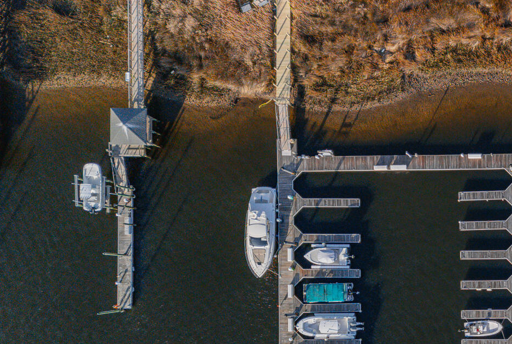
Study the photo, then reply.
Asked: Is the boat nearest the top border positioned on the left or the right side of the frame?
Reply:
left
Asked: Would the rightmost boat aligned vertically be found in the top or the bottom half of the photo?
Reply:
bottom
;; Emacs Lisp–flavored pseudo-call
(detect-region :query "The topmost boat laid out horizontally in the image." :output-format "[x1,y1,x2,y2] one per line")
[303,248,359,265]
